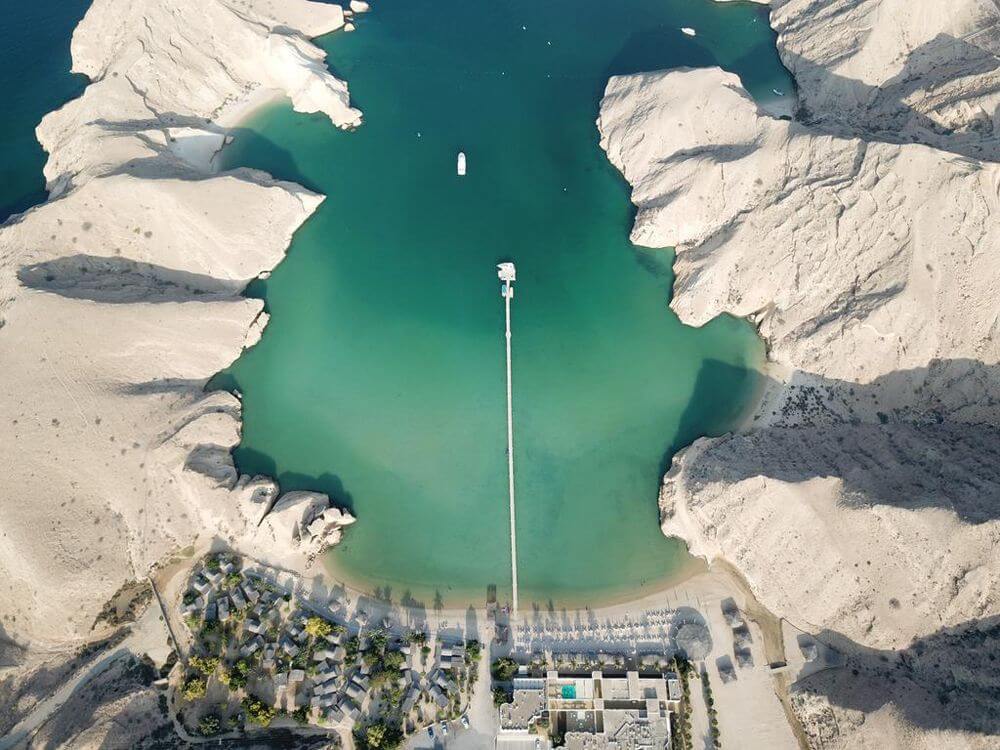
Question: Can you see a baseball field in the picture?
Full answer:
No, there is no baseball field in the image.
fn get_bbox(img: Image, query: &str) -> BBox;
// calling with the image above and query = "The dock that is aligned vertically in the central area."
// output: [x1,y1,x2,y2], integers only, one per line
[497,263,517,613]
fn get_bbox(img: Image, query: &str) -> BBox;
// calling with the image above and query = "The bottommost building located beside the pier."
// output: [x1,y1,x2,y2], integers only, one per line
[497,655,686,750]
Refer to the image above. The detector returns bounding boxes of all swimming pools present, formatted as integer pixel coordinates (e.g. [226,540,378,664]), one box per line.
[562,685,576,698]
